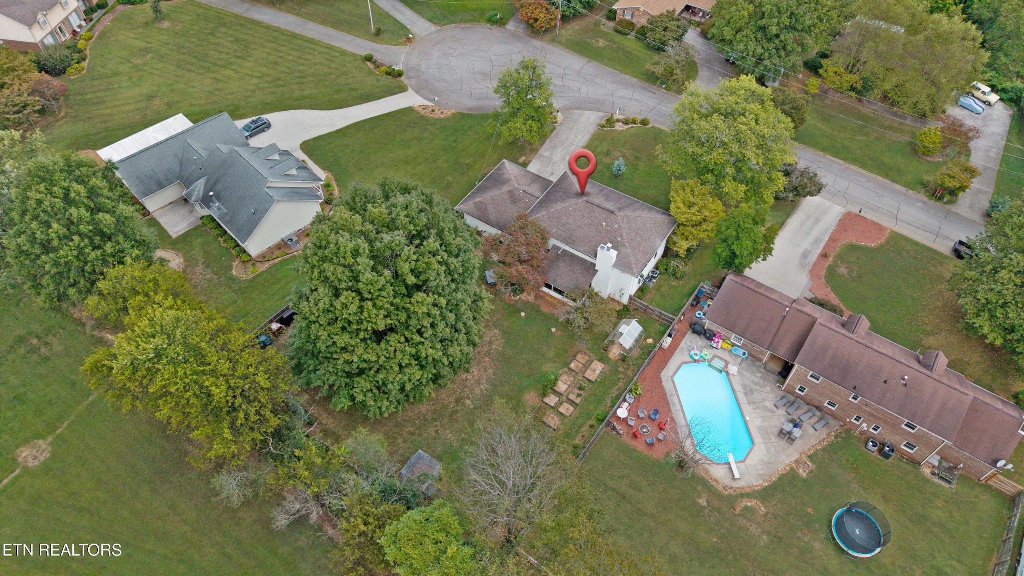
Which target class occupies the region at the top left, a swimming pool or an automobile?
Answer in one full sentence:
The feature located at the top left is an automobile.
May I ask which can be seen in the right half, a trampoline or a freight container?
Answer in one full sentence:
Looking in the right half, you will find a trampoline.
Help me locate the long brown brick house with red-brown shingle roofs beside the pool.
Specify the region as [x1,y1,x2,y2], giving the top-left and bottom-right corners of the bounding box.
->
[703,270,1024,480]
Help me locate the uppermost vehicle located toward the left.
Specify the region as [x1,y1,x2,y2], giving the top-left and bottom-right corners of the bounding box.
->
[238,114,271,138]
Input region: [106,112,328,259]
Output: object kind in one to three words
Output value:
house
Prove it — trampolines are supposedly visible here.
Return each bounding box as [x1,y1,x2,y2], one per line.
[826,502,892,564]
